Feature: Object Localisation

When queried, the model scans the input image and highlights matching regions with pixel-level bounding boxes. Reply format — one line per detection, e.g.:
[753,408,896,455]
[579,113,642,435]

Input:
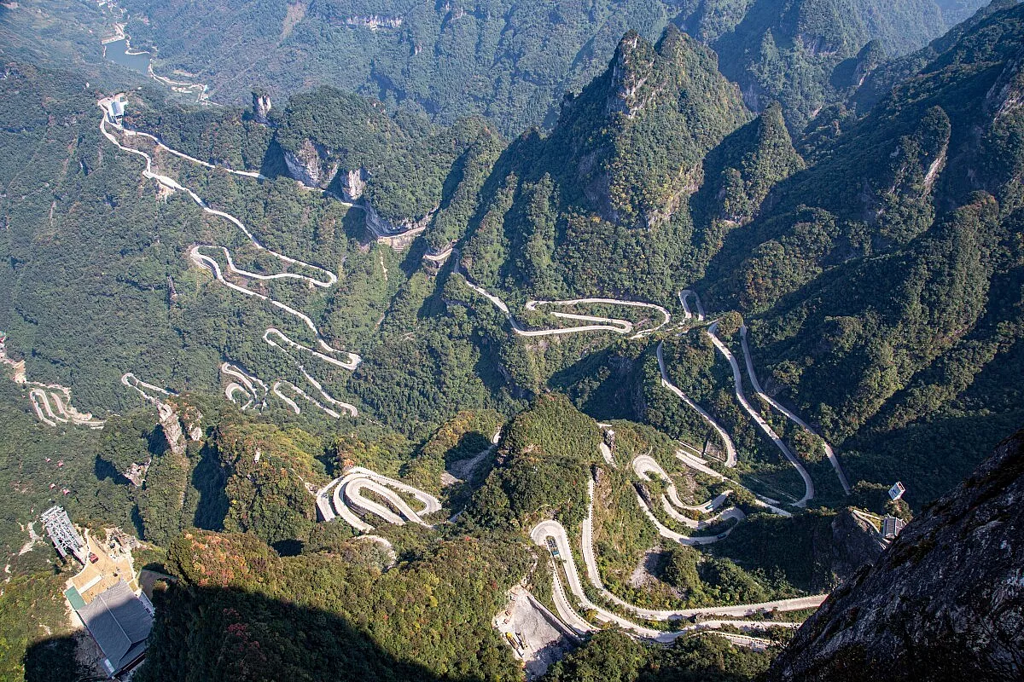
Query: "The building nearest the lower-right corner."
[872,515,905,551]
